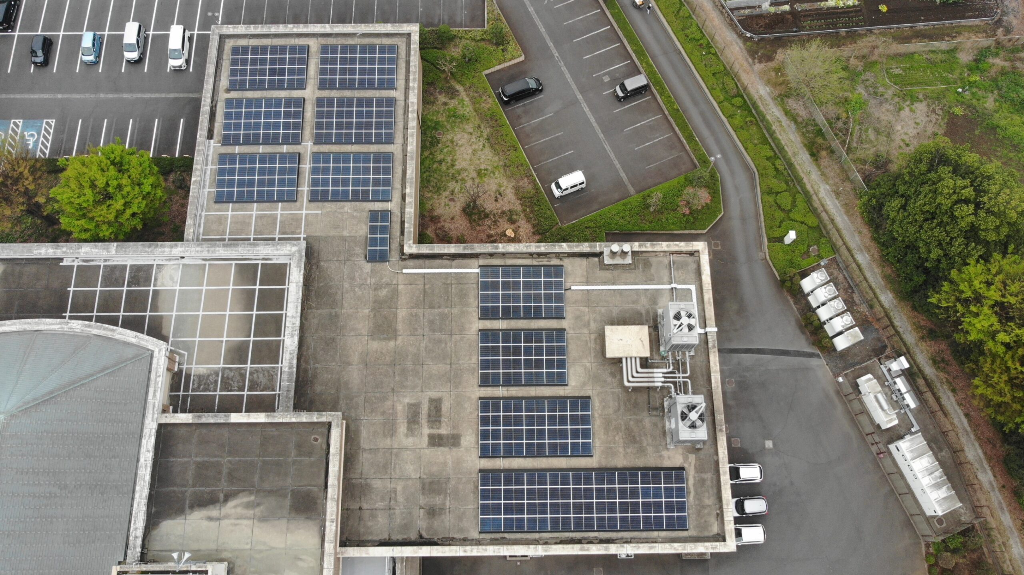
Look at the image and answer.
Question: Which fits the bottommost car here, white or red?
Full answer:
The bottommost car is white.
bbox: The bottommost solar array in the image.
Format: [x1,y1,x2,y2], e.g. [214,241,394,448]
[479,466,688,533]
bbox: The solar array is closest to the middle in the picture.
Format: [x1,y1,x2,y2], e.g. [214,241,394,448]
[479,267,565,319]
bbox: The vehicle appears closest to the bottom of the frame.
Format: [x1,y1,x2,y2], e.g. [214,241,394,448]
[733,523,768,547]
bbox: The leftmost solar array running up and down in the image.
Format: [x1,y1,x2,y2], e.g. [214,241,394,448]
[367,212,391,263]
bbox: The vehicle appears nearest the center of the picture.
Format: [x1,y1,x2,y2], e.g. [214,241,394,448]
[548,169,588,201]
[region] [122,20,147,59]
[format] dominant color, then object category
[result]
white vehicle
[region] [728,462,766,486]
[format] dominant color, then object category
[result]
white car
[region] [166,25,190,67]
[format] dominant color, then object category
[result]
white vehicle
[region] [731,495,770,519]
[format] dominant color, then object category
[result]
white car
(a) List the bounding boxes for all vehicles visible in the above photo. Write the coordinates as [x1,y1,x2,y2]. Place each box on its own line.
[122,20,147,59]
[166,25,190,67]
[79,30,102,62]
[733,523,768,547]
[29,31,53,63]
[614,73,649,102]
[499,78,544,107]
[548,169,588,201]
[731,495,770,519]
[728,462,766,486]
